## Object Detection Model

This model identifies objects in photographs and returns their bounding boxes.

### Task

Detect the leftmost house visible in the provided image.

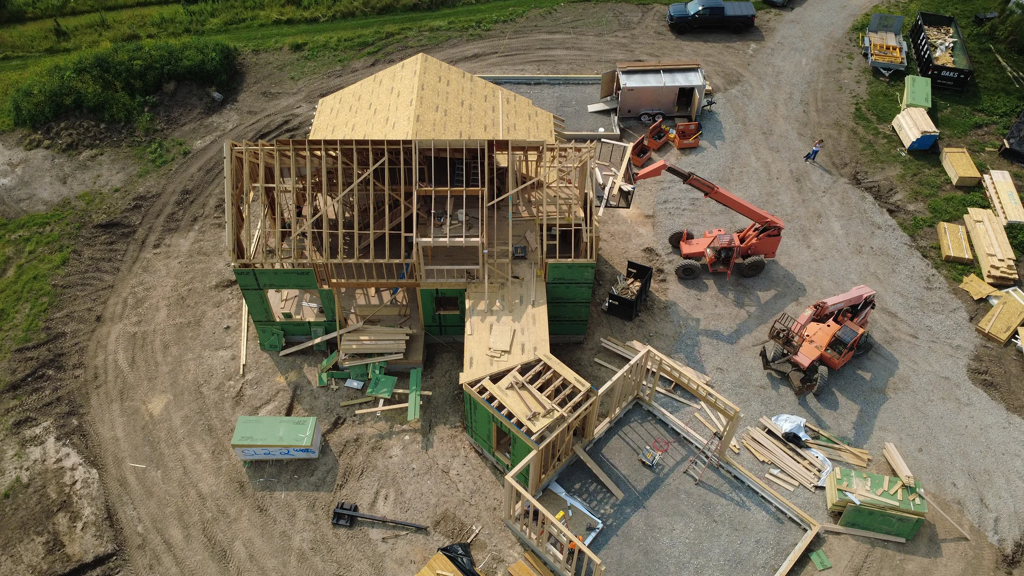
[223,53,597,396]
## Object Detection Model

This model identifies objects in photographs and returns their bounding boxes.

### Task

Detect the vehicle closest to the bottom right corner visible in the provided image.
[756,282,891,404]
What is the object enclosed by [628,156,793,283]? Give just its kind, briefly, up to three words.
work vehicle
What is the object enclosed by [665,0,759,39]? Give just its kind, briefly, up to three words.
truck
